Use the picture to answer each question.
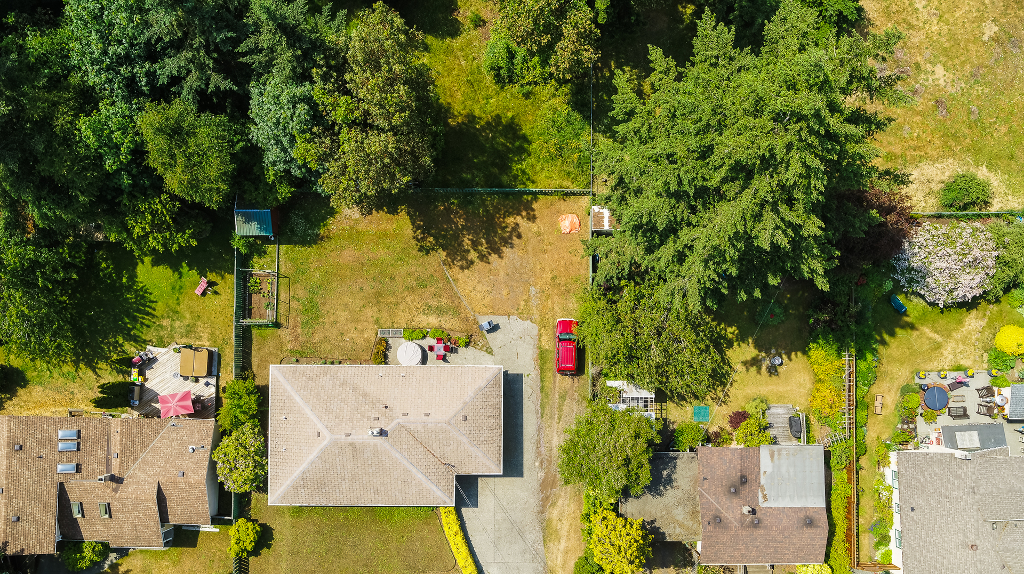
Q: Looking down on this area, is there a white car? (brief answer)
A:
No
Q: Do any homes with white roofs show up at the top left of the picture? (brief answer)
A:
No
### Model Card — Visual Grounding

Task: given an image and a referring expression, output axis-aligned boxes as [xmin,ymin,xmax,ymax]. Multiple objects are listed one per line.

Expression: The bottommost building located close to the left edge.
[0,416,223,556]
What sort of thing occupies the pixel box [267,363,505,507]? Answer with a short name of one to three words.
house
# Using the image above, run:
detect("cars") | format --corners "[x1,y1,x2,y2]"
[554,320,578,381]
